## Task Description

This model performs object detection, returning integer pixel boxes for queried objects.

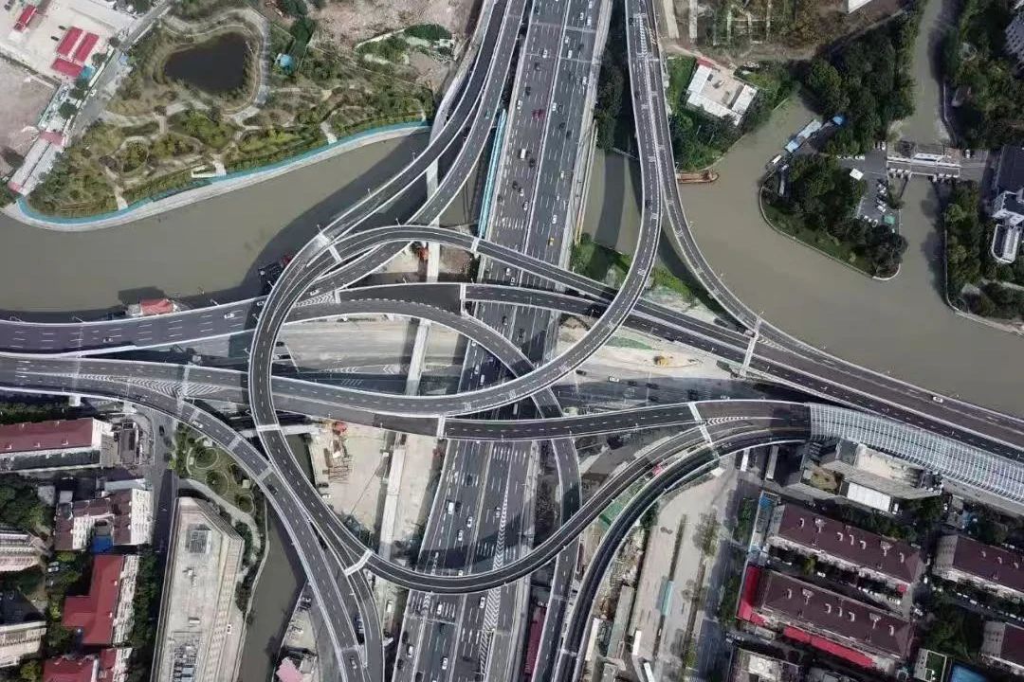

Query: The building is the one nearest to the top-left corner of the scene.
[15,4,41,37]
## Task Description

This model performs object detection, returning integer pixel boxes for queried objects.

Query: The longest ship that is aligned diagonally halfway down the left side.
[253,256,290,286]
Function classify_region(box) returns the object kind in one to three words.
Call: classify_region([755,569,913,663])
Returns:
building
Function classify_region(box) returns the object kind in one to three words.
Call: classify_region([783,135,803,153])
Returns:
boat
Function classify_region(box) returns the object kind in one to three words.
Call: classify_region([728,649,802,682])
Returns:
building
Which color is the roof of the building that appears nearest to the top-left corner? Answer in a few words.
red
